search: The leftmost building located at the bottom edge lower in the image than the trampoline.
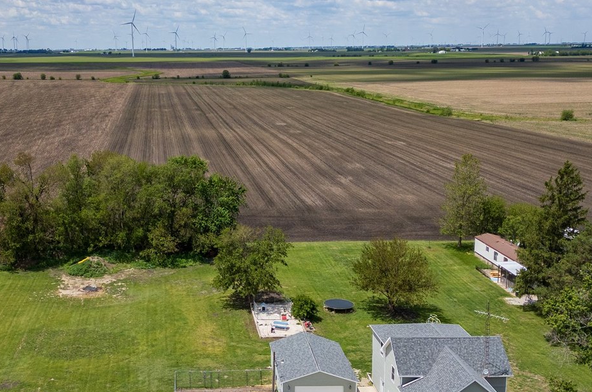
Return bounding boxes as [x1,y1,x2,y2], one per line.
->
[270,333,360,392]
